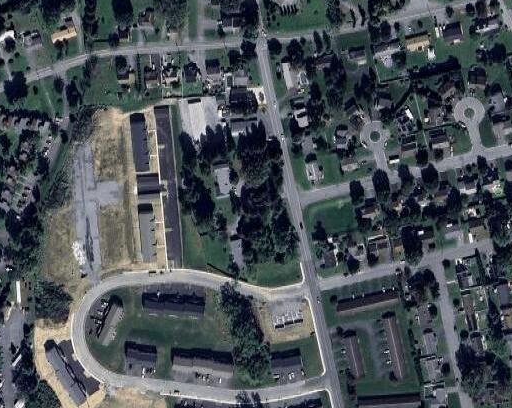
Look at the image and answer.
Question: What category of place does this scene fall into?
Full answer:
The area seen from above is a residential area.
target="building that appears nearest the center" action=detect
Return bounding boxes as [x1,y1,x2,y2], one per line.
[214,167,231,195]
